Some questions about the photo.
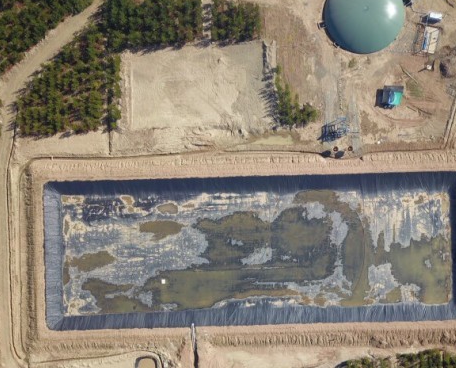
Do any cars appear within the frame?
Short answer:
No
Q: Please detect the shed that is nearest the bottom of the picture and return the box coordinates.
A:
[385,85,404,107]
